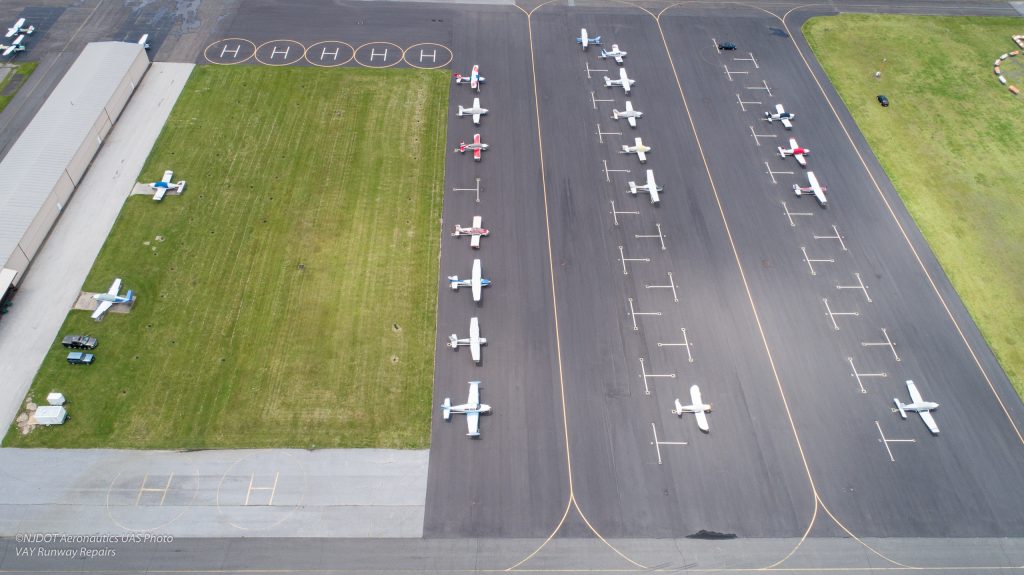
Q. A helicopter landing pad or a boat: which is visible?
helicopter landing pad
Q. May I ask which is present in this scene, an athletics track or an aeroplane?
aeroplane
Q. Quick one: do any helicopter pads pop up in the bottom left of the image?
Yes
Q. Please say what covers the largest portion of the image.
paved ground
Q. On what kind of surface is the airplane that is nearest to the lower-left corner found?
grass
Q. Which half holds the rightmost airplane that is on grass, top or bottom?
top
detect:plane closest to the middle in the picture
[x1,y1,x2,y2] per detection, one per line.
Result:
[452,259,491,299]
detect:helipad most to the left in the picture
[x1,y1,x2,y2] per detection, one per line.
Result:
[107,449,199,530]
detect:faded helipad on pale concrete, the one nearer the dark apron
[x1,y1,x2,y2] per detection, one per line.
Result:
[217,449,305,530]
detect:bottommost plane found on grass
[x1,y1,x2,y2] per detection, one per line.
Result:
[93,279,134,317]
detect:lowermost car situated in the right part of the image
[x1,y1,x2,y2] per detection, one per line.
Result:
[877,93,890,105]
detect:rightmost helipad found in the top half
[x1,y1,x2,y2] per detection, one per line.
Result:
[403,43,452,69]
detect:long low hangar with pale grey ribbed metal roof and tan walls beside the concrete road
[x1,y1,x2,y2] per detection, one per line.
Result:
[0,42,150,309]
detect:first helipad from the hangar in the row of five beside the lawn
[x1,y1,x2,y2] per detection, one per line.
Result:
[204,38,255,64]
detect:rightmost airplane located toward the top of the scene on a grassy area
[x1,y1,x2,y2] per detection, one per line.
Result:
[149,171,186,199]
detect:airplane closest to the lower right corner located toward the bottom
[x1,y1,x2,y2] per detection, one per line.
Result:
[893,381,941,432]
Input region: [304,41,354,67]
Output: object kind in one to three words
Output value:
helipad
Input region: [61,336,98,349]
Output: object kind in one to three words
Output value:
vehicle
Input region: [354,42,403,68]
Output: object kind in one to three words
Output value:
helipad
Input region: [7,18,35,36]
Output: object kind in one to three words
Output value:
airplane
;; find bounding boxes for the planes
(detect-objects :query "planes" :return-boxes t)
[794,171,827,201]
[778,139,810,164]
[93,279,134,317]
[624,137,651,160]
[134,32,150,49]
[607,68,635,90]
[451,317,488,359]
[443,382,491,434]
[766,105,795,128]
[458,99,488,123]
[893,381,941,432]
[576,28,602,46]
[455,65,486,87]
[0,36,25,55]
[602,45,627,62]
[631,170,664,200]
[613,102,642,125]
[452,259,491,299]
[149,171,186,199]
[455,216,489,246]
[675,386,713,430]
[459,134,488,159]
[7,18,35,36]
